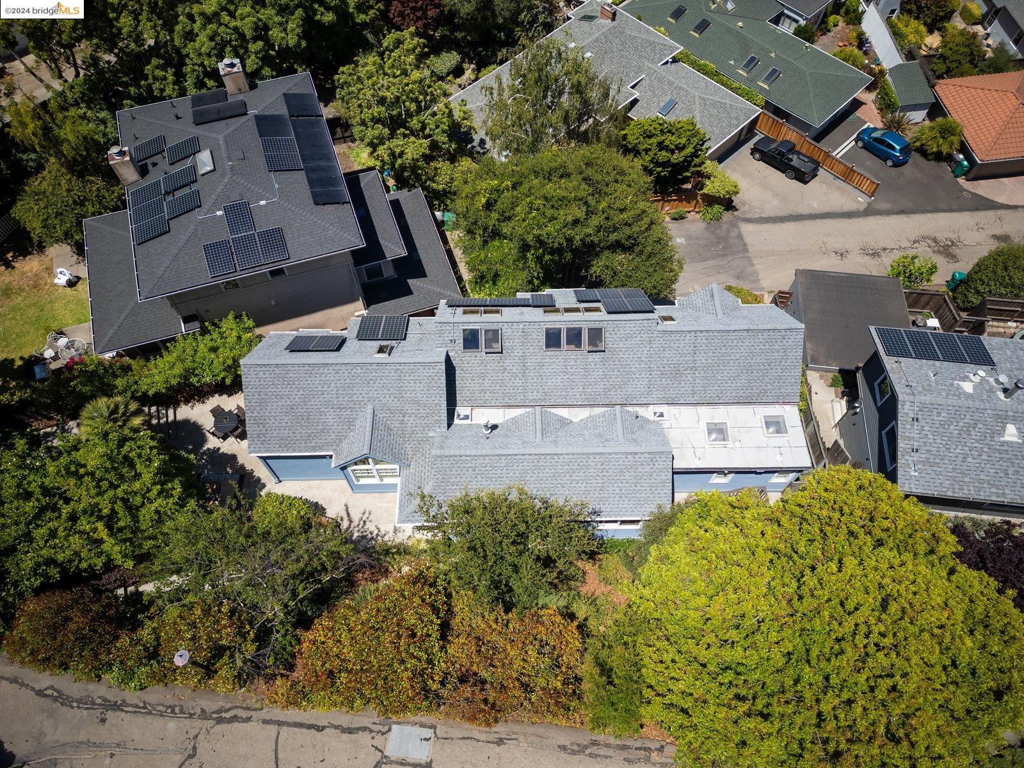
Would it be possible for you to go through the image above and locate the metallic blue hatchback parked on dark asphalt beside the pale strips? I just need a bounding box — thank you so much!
[853,124,915,168]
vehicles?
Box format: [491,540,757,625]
[746,134,817,181]
[853,124,915,168]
